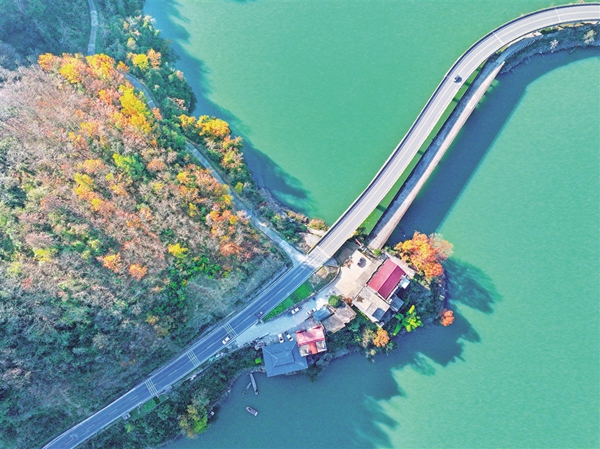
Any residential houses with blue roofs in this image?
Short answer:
Yes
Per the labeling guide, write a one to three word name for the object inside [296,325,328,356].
house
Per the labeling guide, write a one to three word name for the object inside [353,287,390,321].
house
